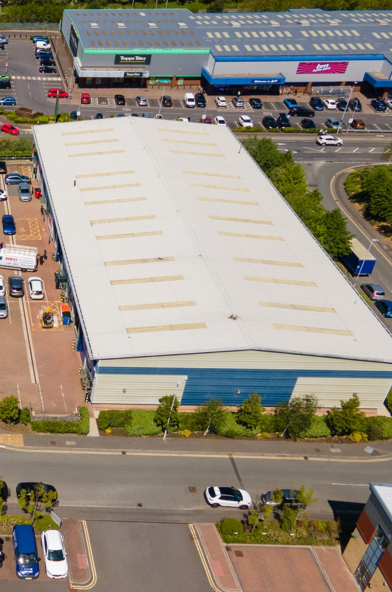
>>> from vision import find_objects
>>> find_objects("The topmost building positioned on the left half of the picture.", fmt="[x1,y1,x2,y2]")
[58,8,208,85]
